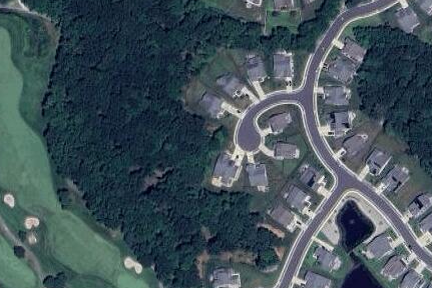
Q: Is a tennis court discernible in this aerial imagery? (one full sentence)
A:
No, there isn't any tennis court down there.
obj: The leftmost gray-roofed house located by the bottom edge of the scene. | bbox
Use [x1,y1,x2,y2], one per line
[208,265,238,288]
